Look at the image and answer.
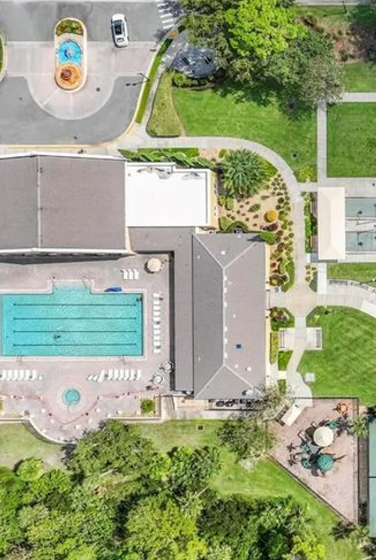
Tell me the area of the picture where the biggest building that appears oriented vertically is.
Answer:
right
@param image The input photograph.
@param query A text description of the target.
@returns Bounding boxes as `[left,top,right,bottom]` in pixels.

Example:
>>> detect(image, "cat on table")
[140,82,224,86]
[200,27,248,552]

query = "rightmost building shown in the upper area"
[319,188,347,260]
